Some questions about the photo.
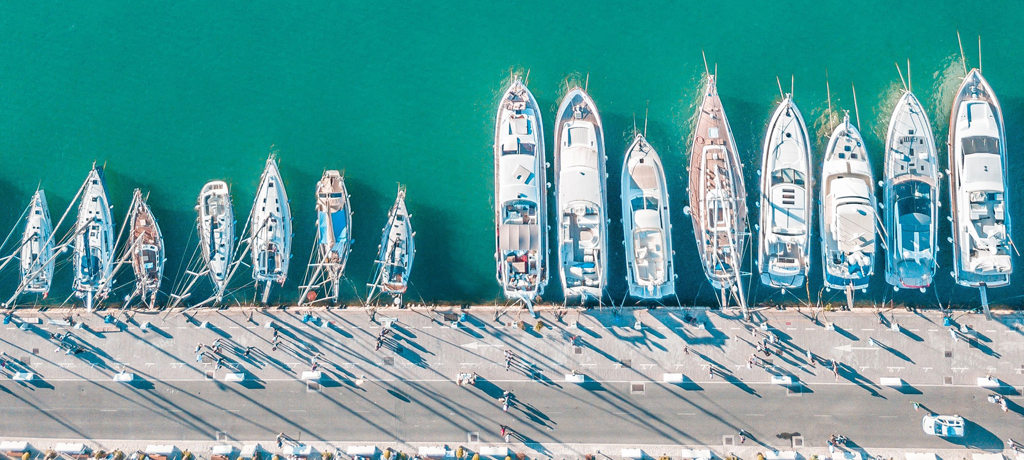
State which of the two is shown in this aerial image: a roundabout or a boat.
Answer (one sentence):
Visible in the photo is a boat.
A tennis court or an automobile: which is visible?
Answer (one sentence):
The image shows an automobile.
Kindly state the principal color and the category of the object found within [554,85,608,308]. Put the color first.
white boat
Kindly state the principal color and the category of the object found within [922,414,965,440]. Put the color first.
white car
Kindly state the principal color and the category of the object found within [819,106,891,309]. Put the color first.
white boat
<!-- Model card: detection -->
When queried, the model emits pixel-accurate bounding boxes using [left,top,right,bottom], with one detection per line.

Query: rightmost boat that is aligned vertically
[948,67,1020,321]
